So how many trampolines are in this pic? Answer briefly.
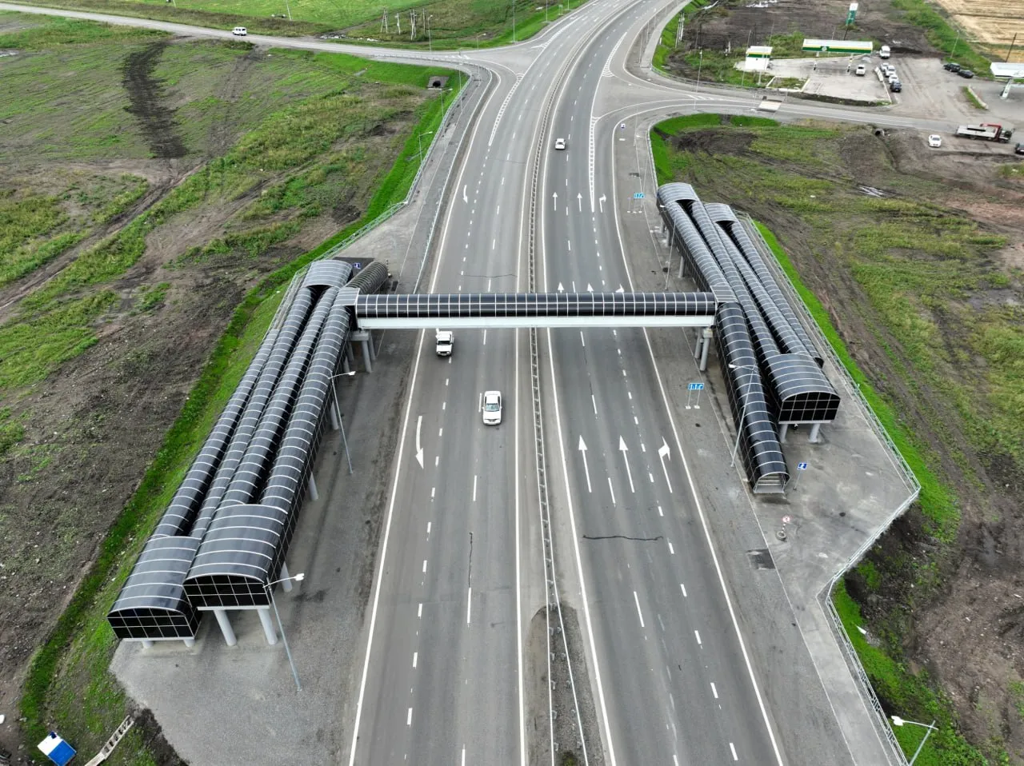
none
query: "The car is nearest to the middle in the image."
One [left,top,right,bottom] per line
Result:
[481,390,503,424]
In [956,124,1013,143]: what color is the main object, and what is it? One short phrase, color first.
white vehicle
